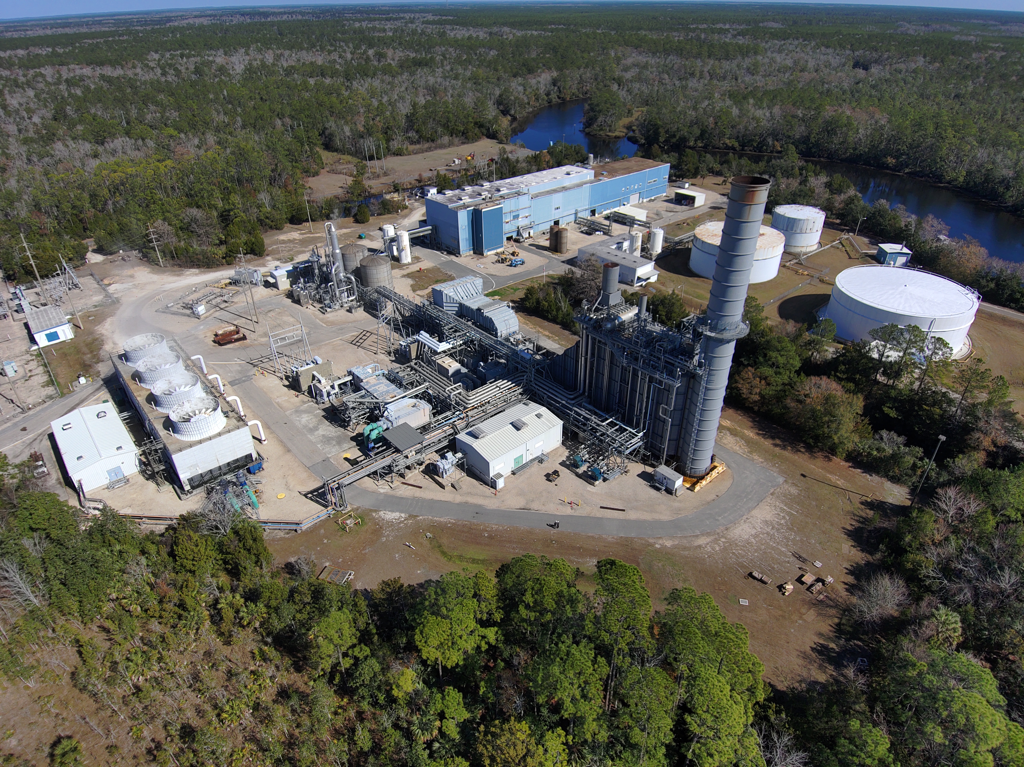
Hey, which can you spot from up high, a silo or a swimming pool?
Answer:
silo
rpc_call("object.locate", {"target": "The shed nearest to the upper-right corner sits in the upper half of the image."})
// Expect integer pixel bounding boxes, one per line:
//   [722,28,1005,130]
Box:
[877,244,913,265]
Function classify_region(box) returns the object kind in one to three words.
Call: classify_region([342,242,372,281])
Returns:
silo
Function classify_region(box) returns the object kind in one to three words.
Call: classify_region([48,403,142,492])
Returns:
building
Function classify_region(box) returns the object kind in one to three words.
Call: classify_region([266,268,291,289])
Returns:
shed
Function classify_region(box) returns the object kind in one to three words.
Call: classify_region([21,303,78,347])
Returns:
building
